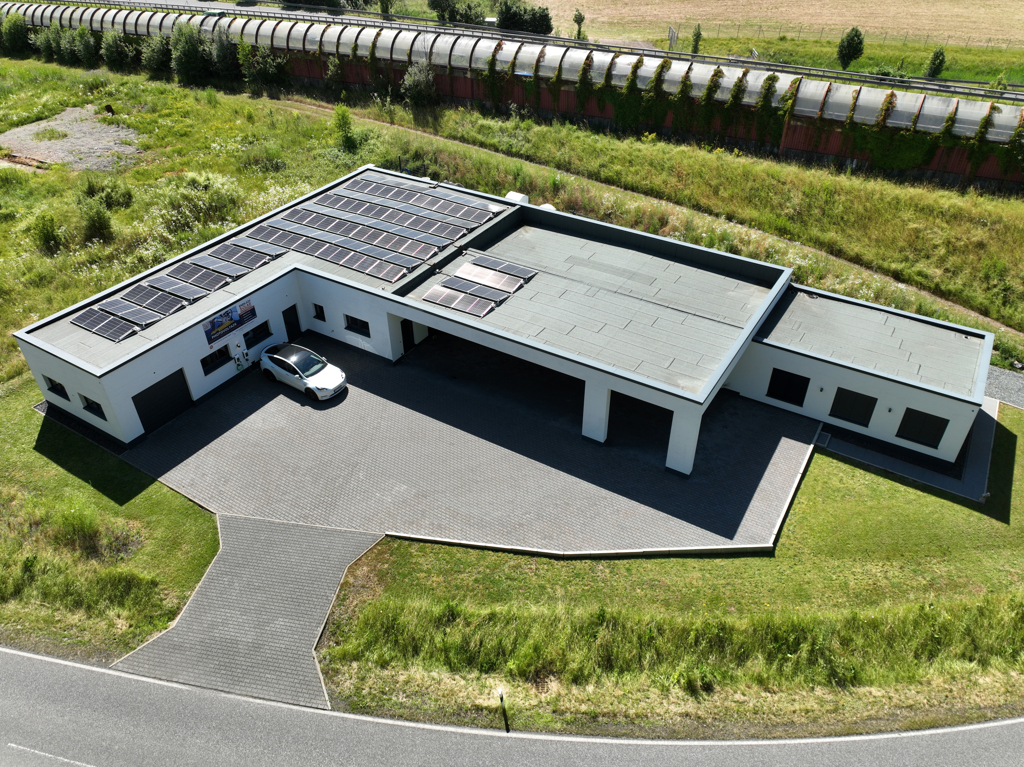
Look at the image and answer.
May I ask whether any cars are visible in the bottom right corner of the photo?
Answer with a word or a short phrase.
No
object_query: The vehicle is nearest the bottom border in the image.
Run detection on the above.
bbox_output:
[257,343,349,401]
